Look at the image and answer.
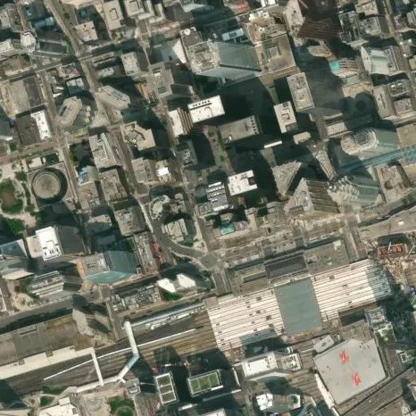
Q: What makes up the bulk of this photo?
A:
buildings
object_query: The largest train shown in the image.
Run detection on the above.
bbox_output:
[23,364,85,383]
